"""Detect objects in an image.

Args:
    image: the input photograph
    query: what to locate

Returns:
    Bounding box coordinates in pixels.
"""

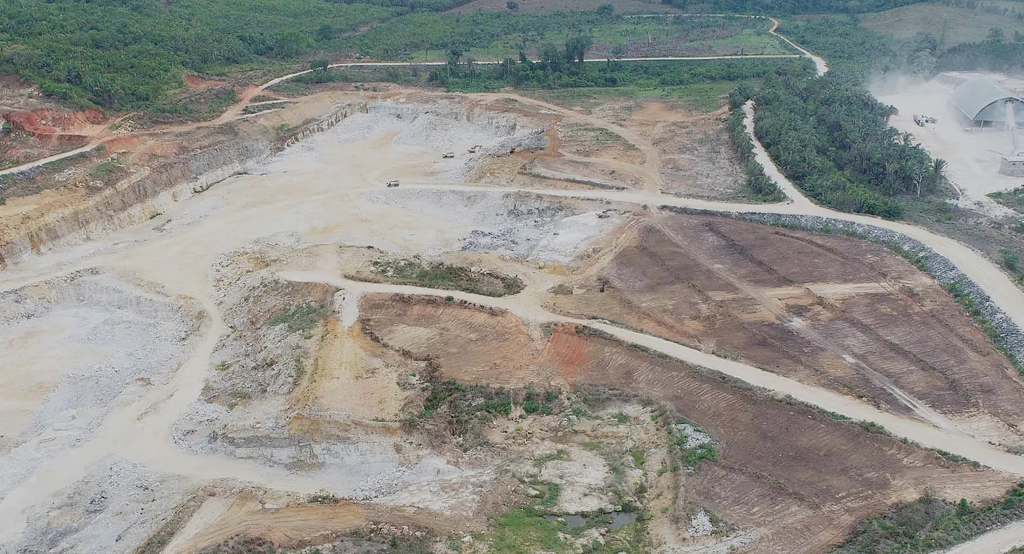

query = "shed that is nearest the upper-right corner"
[948,77,1024,131]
